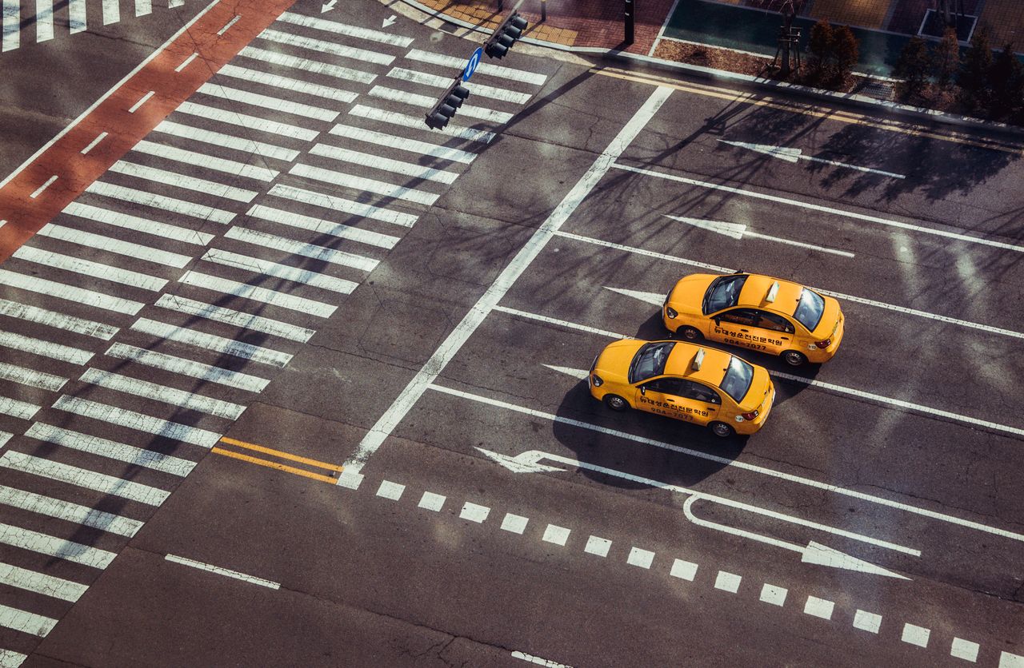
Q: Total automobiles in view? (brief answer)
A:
two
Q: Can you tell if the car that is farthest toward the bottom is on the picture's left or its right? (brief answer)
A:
right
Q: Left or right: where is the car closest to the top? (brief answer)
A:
right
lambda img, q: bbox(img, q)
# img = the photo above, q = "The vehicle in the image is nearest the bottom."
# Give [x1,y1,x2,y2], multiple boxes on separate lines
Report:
[587,331,776,437]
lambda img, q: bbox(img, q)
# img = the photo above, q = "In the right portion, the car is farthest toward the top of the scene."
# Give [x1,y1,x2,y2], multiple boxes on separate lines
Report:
[661,264,845,365]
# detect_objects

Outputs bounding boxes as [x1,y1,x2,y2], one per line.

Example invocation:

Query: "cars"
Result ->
[661,264,845,365]
[587,331,776,437]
